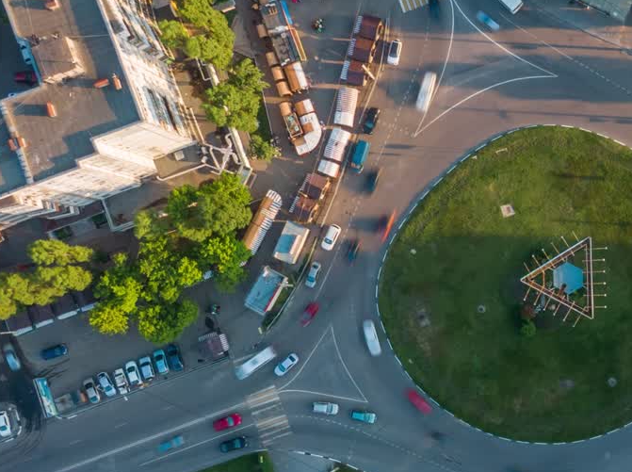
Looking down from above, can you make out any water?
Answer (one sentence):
No, the scene doesn't show any water.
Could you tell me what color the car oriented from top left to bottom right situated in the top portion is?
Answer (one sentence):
From above, the car oriented from top left to bottom right situated in the top portion appears blue.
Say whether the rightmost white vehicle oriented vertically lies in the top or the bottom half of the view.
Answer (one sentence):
You can find the rightmost white vehicle oriented vertically in the top half.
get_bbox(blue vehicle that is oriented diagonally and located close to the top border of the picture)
[477,11,498,31]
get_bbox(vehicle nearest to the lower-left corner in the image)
[0,411,13,437]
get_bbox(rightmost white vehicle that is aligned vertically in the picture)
[415,72,435,111]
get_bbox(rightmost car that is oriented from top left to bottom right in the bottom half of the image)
[406,390,431,412]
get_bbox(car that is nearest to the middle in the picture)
[322,222,340,250]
